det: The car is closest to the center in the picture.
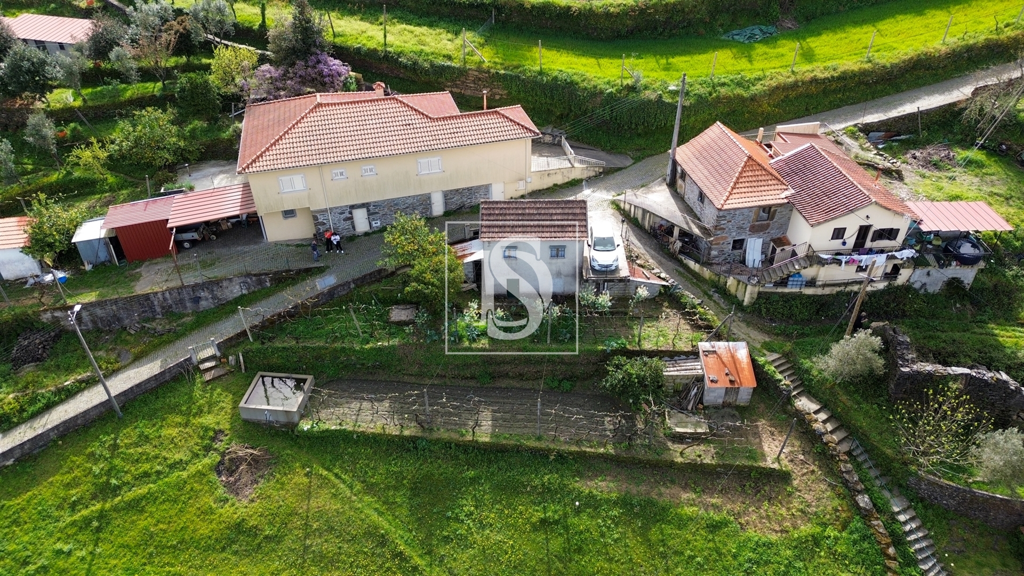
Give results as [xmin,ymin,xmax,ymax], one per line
[587,223,622,271]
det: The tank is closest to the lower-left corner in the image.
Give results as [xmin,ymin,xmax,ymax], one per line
[238,372,315,422]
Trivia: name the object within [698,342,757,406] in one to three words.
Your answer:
shed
